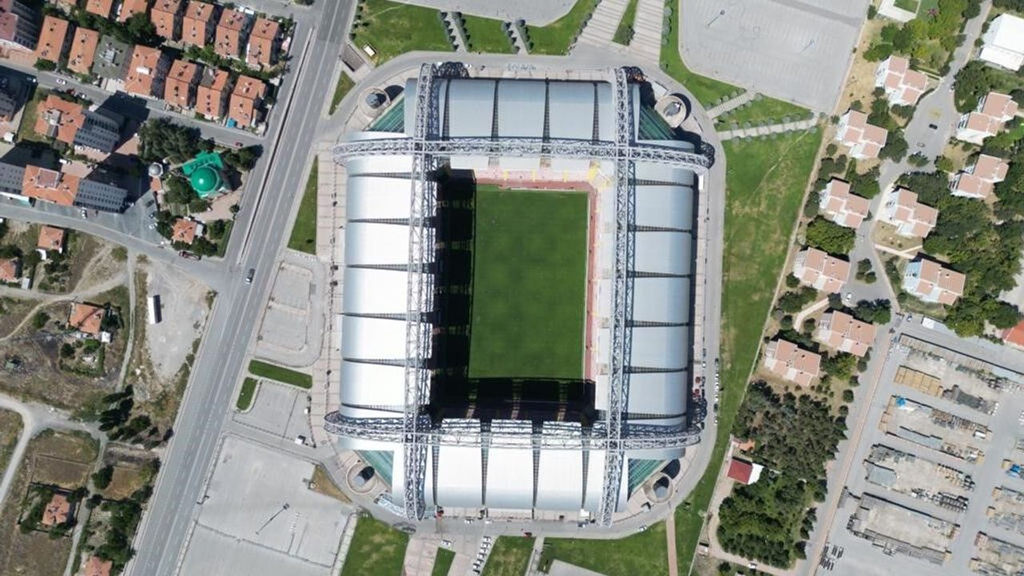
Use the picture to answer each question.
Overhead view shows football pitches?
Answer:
Yes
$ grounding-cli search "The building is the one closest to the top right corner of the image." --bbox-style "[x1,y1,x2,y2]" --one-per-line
[956,20,1024,86]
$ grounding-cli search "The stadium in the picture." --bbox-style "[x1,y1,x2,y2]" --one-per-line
[326,61,710,526]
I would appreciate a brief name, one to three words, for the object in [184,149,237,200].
building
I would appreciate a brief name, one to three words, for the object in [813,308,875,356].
house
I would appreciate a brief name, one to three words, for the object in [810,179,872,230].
house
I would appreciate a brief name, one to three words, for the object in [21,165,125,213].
building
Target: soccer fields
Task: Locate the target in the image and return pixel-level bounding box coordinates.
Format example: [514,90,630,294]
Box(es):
[437,178,598,409]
